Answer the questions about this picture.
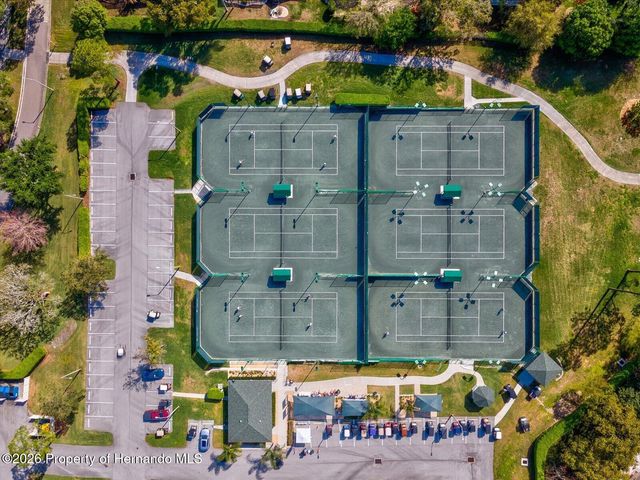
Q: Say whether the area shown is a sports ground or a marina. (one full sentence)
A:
What you see here is a sports ground.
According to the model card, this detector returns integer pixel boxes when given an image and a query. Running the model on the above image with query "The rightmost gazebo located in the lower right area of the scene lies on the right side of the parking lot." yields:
[523,351,562,388]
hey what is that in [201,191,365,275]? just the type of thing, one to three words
tennis court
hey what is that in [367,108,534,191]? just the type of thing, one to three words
tennis court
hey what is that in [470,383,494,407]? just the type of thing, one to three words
gazebo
